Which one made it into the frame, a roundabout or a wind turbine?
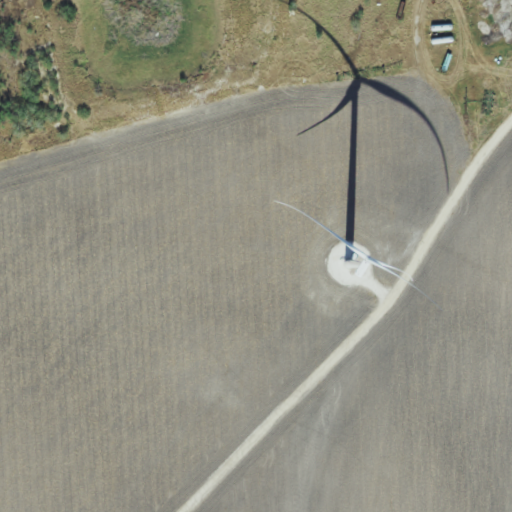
wind turbine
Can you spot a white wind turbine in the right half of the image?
Yes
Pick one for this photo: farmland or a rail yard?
farmland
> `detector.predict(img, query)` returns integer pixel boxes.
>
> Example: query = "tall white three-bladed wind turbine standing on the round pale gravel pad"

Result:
[271,200,462,326]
